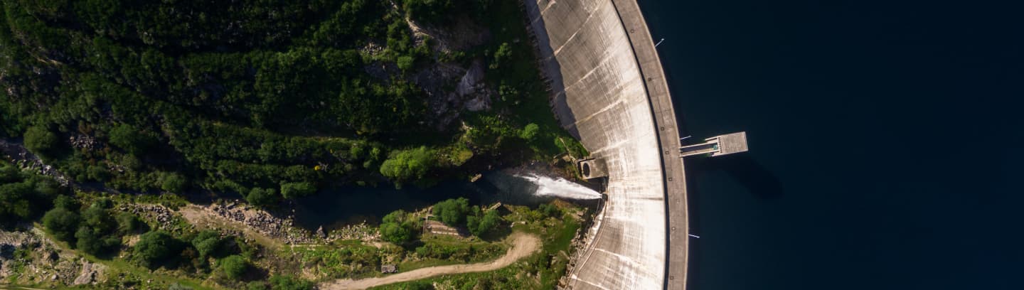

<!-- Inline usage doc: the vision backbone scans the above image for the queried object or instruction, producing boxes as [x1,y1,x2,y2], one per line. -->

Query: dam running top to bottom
[518,0,691,290]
